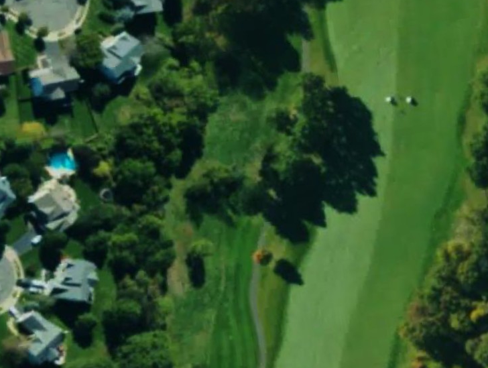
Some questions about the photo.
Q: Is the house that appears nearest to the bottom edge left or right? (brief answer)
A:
left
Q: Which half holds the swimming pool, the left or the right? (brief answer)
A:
left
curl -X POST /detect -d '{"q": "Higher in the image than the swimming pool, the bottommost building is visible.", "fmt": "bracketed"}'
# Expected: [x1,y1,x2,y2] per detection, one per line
[22,56,82,104]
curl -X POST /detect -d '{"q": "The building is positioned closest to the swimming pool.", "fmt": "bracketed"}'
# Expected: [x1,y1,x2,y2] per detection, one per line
[26,176,81,228]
